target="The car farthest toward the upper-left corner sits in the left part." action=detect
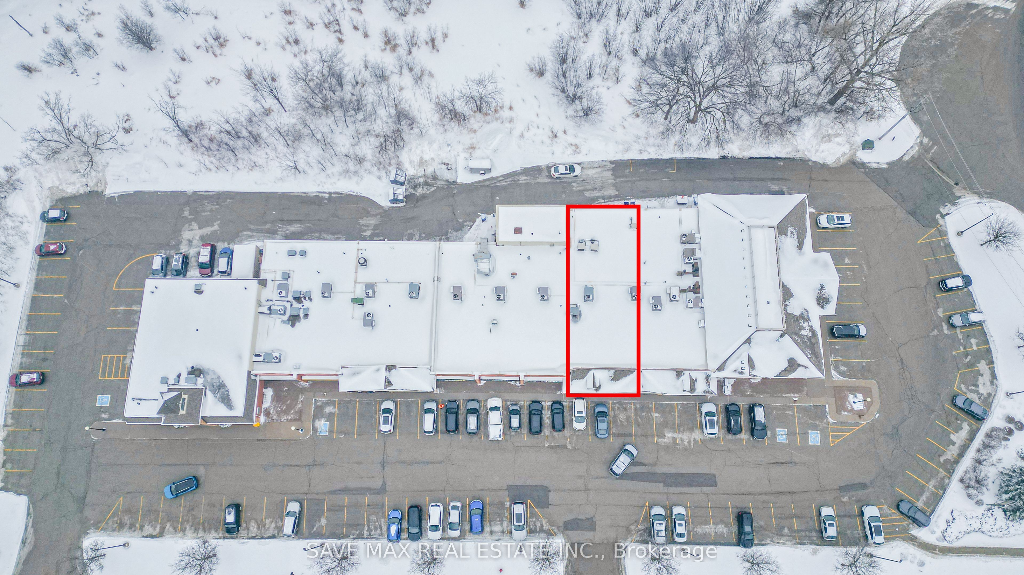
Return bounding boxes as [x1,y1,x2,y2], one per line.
[39,209,70,224]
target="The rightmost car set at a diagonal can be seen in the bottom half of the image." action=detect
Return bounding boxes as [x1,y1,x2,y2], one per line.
[950,393,991,423]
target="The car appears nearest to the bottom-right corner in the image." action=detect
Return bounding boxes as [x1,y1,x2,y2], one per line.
[895,499,932,530]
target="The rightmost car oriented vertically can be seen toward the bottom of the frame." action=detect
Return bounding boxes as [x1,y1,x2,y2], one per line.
[861,505,886,546]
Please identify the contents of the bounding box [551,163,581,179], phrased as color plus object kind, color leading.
white car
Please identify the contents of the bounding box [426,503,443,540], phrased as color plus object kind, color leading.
white car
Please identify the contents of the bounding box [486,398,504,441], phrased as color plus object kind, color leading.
white vehicle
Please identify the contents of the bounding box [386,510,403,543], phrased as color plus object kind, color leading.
blue car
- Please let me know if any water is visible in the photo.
No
